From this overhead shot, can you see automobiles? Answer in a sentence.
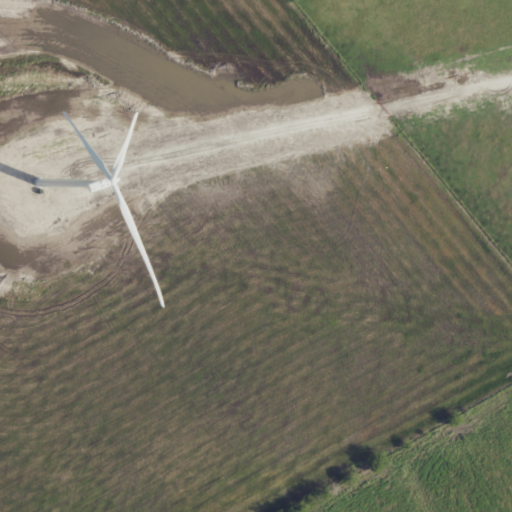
No, there's no automobile here.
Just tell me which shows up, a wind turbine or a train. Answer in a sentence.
There is a wind turbine in the scene.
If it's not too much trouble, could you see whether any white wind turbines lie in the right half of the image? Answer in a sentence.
No, there is no white wind turbine in the right half of the image.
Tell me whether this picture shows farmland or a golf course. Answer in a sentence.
This looks like farmland.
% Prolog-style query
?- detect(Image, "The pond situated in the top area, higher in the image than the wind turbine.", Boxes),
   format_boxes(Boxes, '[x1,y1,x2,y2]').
[15,8,321,112]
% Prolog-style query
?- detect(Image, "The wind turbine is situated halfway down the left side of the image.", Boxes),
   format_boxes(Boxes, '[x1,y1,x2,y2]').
[35,112,164,306]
